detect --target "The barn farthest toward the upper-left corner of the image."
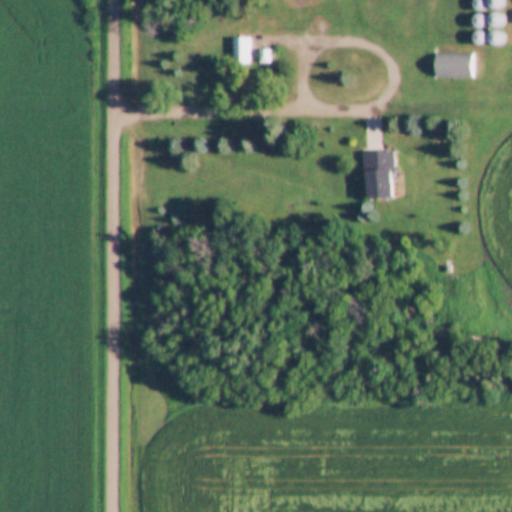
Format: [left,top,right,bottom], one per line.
[234,36,252,65]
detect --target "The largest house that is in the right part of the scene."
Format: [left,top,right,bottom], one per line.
[364,152,407,199]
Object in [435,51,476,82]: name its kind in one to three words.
shed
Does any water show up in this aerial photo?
No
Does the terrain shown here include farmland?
Yes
